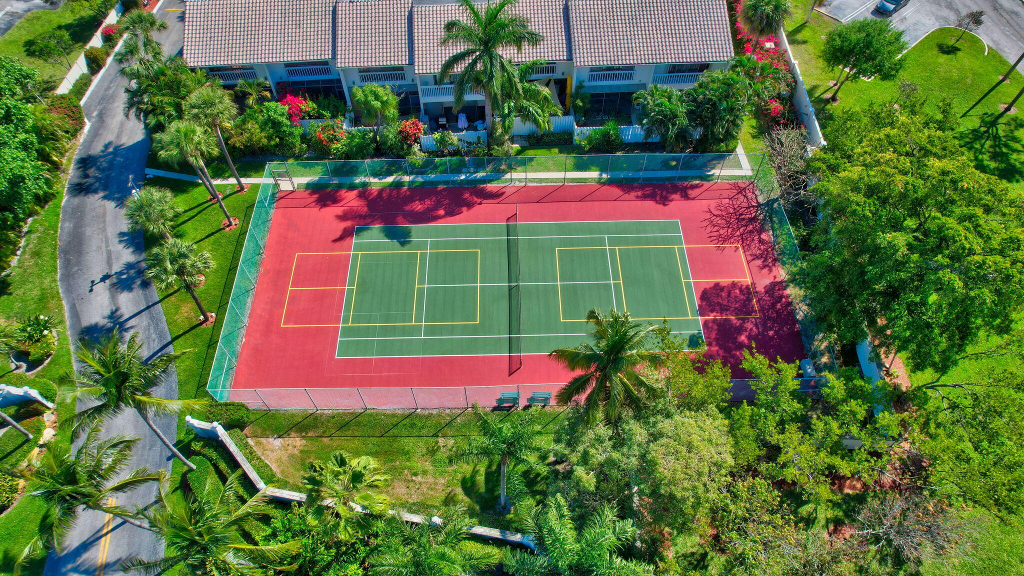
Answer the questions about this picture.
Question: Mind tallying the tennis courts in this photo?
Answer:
one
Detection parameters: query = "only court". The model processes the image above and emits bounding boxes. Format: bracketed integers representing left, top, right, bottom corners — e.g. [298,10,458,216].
[229,180,813,411]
